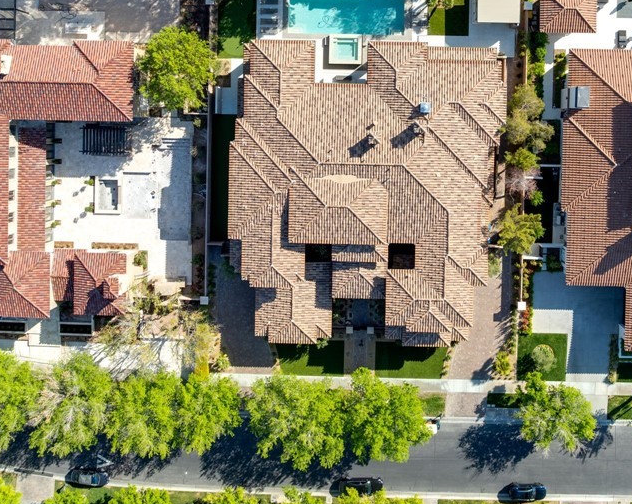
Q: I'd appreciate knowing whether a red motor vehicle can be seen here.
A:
No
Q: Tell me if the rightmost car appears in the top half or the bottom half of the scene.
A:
bottom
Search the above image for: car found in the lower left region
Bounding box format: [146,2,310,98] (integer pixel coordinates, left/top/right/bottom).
[67,465,109,488]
